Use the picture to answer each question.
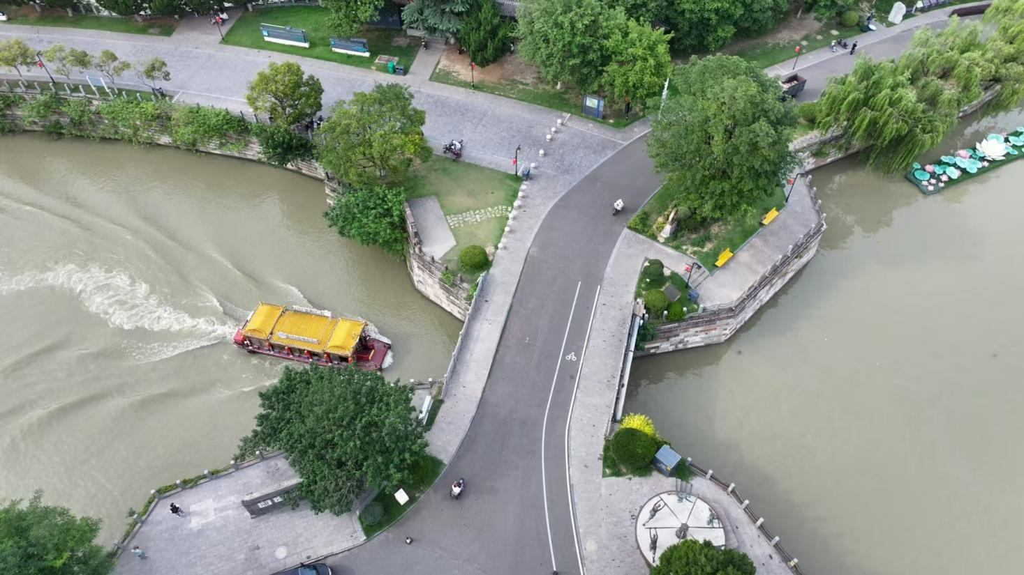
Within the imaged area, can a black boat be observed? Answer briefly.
No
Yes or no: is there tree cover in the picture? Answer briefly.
Yes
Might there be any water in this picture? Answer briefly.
Yes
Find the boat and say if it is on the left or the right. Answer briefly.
left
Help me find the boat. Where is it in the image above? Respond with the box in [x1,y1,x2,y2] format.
[235,297,394,376]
